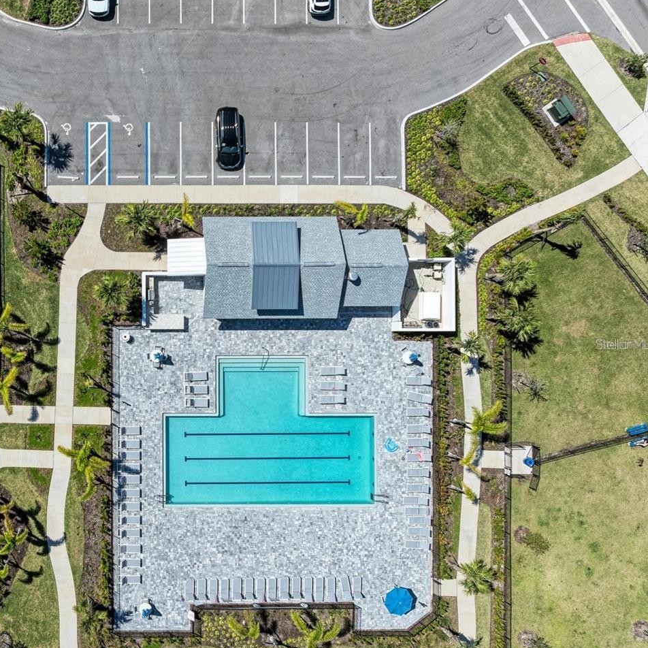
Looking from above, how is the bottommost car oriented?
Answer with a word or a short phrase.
vertically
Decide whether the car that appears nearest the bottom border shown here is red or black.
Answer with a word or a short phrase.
black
